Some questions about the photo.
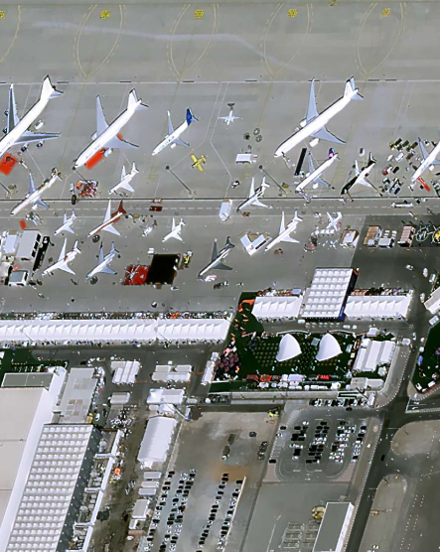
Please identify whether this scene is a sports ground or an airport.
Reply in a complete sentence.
The picture captures an airport.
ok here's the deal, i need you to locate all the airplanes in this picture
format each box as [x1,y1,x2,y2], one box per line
[275,75,361,156]
[111,165,137,193]
[89,201,126,238]
[163,218,185,241]
[0,85,61,156]
[200,238,235,277]
[266,212,303,250]
[298,149,340,190]
[153,113,196,155]
[12,168,61,215]
[238,177,269,212]
[192,155,205,171]
[55,211,76,235]
[75,93,146,167]
[323,210,342,229]
[412,135,440,180]
[42,240,79,277]
[415,226,429,242]
[342,156,379,193]
[87,246,117,278]
[218,104,240,125]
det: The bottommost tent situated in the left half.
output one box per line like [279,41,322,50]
[137,416,181,464]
